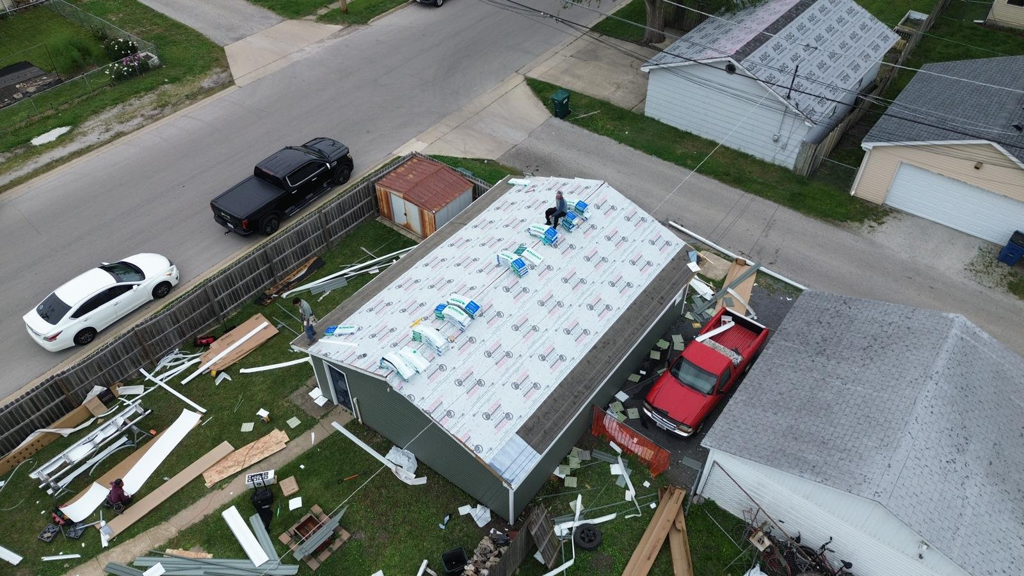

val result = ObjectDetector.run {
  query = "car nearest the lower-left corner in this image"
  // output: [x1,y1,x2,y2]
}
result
[28,248,186,351]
